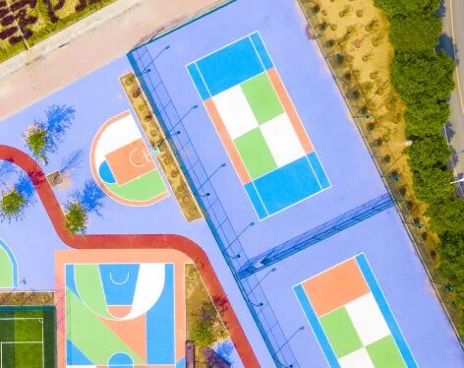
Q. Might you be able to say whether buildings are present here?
No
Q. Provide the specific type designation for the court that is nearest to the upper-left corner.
basketball court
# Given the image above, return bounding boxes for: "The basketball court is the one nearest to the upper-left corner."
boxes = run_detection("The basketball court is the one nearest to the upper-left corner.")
[90,108,170,205]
